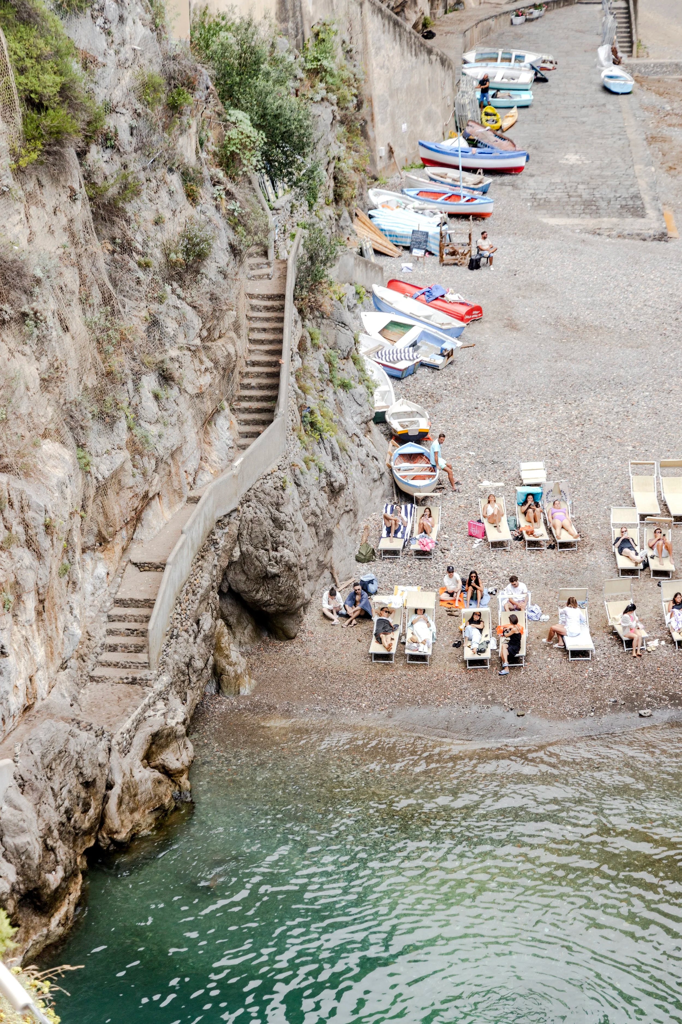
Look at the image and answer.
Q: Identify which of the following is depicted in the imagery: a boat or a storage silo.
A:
boat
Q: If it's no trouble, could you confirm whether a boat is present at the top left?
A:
No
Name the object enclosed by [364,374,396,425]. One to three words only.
boat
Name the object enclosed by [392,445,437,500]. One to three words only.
boat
